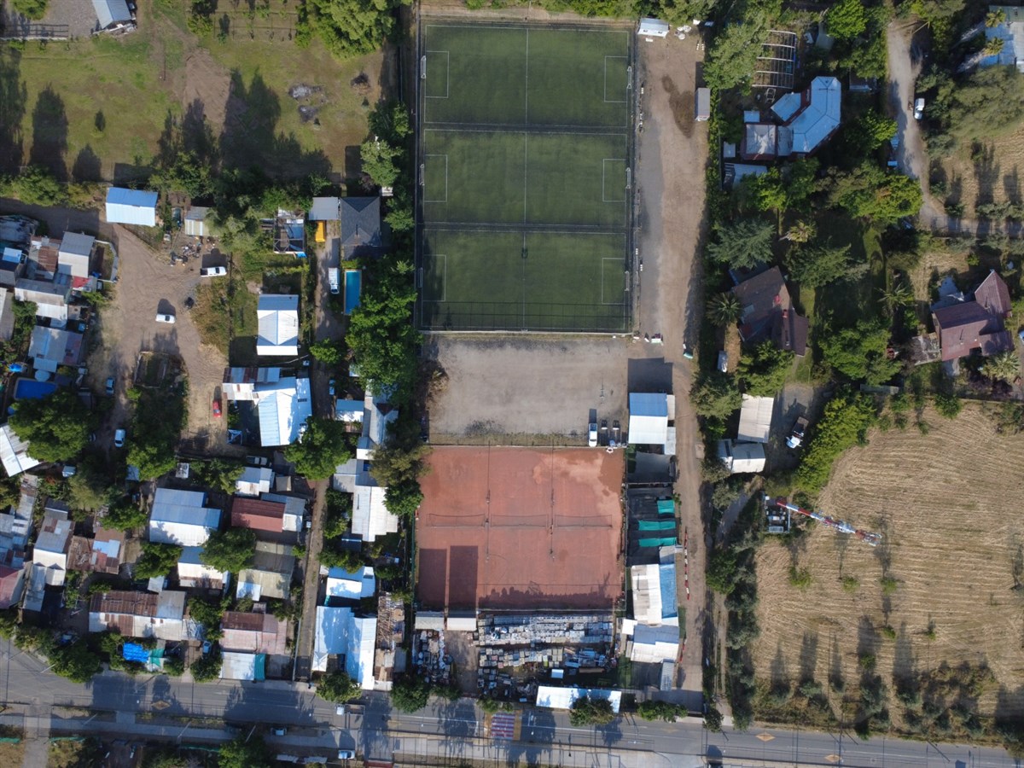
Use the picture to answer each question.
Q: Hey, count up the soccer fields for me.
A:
3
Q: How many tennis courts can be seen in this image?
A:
one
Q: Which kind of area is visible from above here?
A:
residential area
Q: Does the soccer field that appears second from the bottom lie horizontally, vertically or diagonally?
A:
horizontally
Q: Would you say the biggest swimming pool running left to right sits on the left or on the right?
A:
left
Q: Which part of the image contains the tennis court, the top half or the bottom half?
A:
bottom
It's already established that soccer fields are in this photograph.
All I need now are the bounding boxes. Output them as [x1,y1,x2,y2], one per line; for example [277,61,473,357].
[417,124,633,227]
[418,22,634,131]
[416,224,632,331]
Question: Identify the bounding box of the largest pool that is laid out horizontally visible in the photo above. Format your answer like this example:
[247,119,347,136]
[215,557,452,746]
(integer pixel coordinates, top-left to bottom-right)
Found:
[14,378,61,400]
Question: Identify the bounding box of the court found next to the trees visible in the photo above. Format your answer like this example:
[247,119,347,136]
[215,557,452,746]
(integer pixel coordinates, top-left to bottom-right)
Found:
[414,446,626,610]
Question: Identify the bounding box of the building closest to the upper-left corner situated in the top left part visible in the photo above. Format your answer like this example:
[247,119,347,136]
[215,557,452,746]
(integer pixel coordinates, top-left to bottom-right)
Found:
[92,0,137,31]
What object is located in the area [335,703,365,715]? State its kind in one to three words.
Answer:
vehicle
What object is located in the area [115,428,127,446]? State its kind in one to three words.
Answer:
vehicle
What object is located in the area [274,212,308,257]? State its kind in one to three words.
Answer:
house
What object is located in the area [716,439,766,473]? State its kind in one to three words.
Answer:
building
